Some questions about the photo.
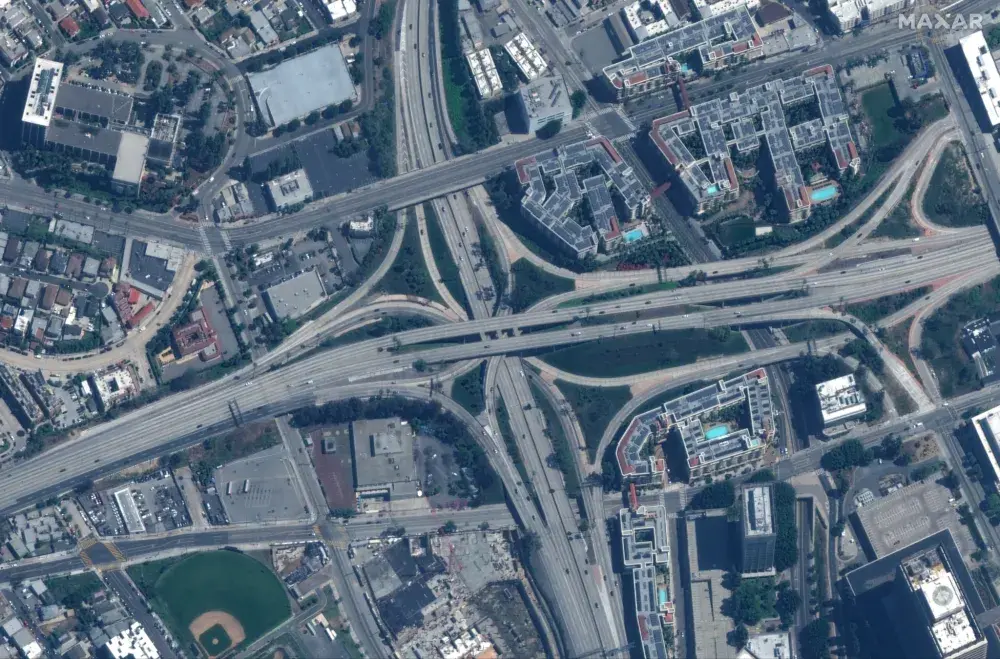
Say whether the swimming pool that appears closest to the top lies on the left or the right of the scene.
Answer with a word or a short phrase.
right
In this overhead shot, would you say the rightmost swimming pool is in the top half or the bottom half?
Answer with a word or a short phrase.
top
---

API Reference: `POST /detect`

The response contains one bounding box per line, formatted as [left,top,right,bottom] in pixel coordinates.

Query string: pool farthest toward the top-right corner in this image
[808,180,843,205]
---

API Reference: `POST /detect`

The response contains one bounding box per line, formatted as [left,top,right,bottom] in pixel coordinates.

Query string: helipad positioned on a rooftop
[933,585,953,603]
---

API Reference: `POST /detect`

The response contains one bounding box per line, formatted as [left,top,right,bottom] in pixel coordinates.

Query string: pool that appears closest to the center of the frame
[616,219,650,248]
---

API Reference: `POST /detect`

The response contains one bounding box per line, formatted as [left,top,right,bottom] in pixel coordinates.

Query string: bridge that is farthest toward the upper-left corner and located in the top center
[392,152,495,203]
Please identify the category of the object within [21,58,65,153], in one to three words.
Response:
building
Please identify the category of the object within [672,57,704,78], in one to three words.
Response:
swimming pool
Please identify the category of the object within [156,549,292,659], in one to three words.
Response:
baseball field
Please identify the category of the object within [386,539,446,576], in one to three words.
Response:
shed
